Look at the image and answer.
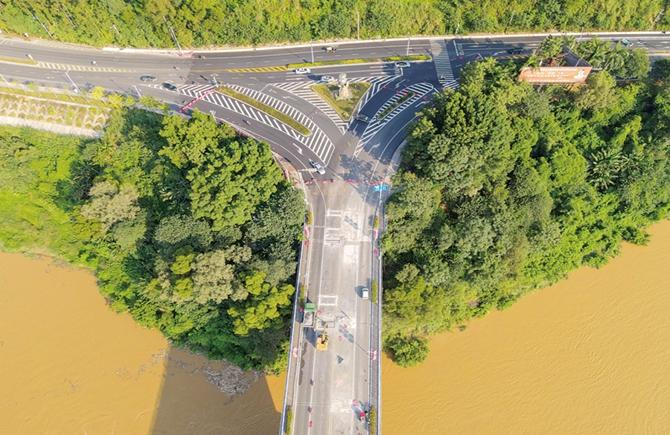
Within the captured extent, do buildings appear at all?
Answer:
No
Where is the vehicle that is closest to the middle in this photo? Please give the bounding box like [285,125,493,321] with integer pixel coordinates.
[309,158,326,174]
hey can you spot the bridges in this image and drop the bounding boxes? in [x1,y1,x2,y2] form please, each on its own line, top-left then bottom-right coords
[281,189,383,435]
